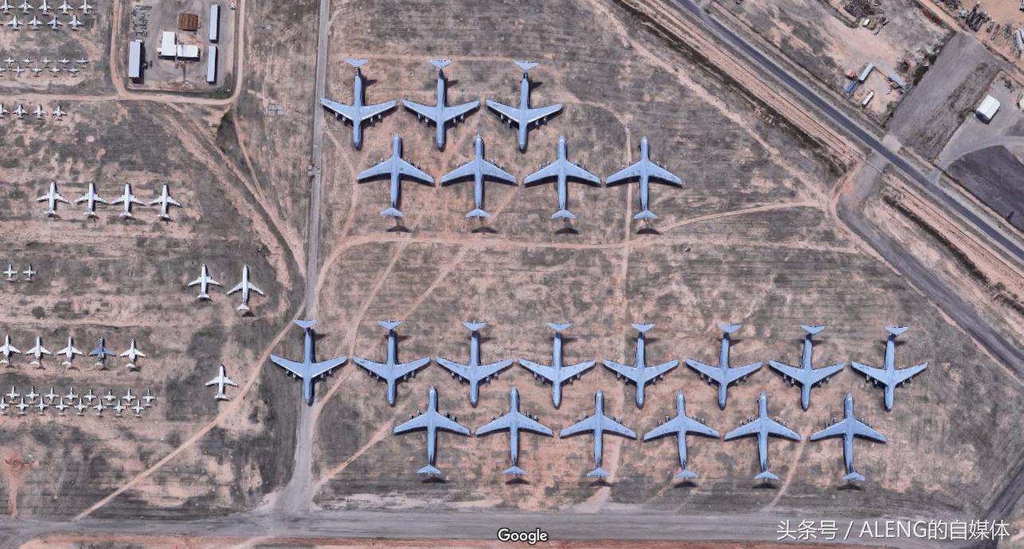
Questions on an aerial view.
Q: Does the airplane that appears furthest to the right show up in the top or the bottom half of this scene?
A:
bottom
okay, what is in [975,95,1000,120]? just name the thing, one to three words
hangar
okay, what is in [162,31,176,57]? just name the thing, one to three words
building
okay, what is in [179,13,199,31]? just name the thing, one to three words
shed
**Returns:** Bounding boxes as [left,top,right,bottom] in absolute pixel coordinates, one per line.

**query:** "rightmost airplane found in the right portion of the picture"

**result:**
[852,324,927,411]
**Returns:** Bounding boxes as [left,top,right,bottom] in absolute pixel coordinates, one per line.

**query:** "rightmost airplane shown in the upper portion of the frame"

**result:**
[606,135,682,221]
